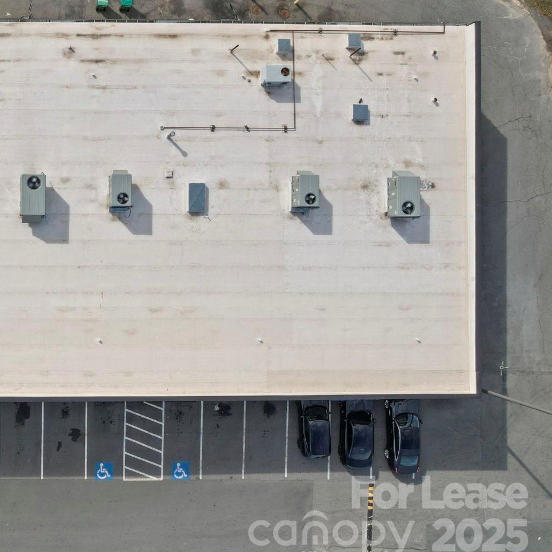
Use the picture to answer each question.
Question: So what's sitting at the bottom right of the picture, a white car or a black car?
black car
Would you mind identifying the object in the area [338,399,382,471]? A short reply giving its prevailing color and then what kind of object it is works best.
black car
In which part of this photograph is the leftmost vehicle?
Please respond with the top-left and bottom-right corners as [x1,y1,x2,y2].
[298,399,338,459]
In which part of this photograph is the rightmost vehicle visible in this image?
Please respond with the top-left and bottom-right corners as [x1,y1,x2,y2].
[384,399,427,475]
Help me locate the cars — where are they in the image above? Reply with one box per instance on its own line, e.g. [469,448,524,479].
[338,399,382,471]
[298,399,338,459]
[384,399,427,475]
